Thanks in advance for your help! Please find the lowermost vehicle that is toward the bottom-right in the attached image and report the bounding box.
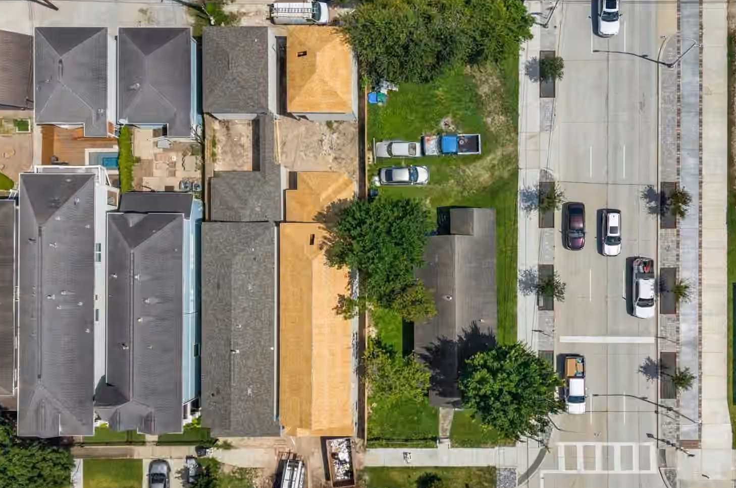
[563,354,589,414]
